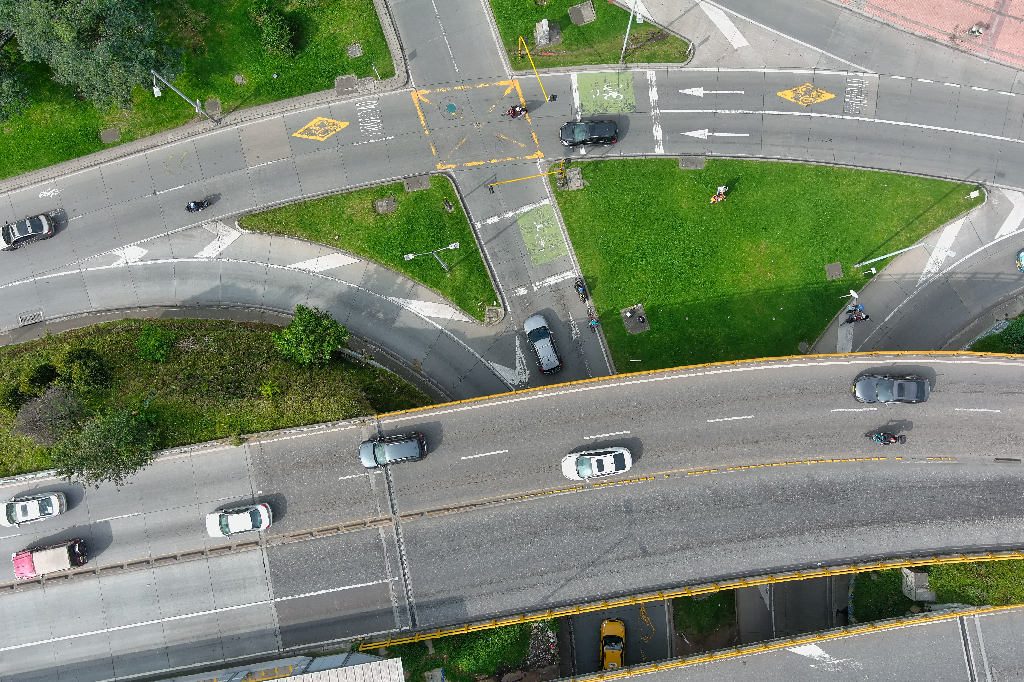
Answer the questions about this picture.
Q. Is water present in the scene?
No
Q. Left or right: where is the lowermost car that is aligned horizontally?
left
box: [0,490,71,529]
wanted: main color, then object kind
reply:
white car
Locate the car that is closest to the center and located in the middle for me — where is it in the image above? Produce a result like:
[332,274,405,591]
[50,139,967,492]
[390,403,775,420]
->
[525,314,562,376]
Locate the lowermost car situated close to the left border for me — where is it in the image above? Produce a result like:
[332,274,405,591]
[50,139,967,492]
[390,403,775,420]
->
[17,539,91,581]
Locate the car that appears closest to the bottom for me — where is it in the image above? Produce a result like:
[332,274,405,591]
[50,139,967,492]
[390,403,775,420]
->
[598,617,626,668]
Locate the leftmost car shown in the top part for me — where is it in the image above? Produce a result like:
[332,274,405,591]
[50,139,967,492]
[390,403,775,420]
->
[0,214,61,250]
